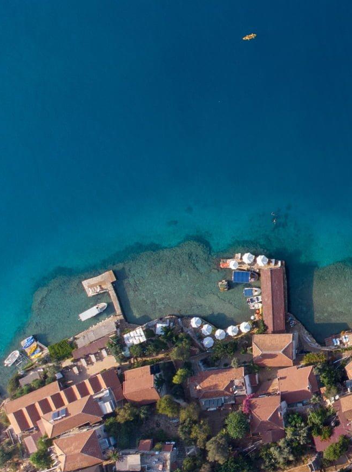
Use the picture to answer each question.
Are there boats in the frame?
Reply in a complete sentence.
Yes, a boat is visible in the scene.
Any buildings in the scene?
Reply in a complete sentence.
Yes, there's a building down there.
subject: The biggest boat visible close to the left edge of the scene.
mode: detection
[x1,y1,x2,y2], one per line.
[2,351,19,367]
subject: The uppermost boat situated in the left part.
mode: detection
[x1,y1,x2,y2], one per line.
[73,305,107,323]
